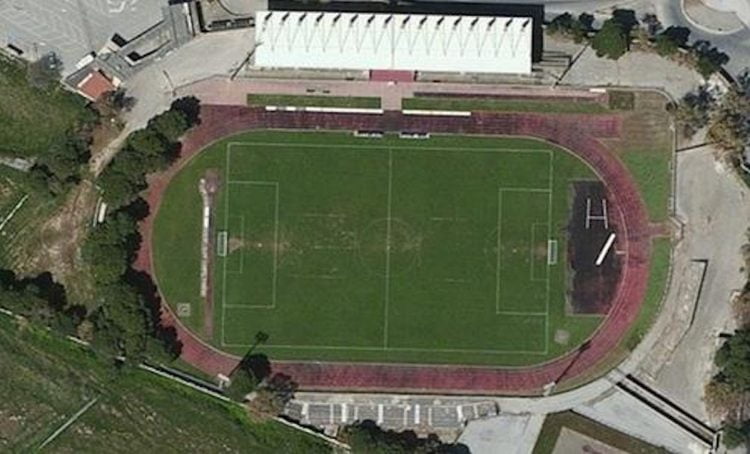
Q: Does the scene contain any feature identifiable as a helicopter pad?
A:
No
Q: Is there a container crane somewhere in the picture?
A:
No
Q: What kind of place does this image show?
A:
sports ground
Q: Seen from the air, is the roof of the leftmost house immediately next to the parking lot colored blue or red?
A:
red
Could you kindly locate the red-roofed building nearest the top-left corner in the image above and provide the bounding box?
[78,71,114,105]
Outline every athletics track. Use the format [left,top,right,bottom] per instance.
[125,104,653,392]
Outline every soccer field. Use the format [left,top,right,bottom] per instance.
[220,141,556,357]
